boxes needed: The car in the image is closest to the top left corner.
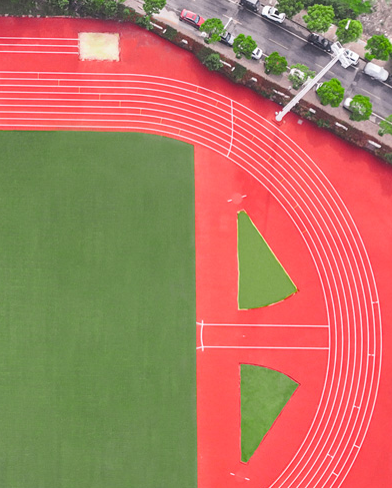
[178,8,204,30]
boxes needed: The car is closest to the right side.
[360,59,389,83]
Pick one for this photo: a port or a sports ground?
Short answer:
sports ground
